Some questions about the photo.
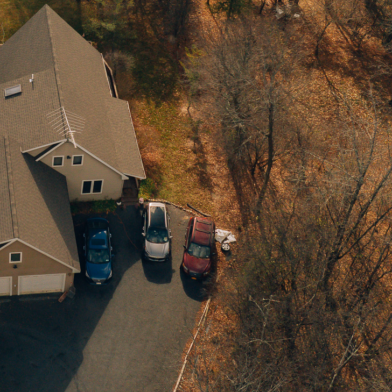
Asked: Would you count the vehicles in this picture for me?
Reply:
3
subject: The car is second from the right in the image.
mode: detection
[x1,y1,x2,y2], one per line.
[140,199,177,264]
